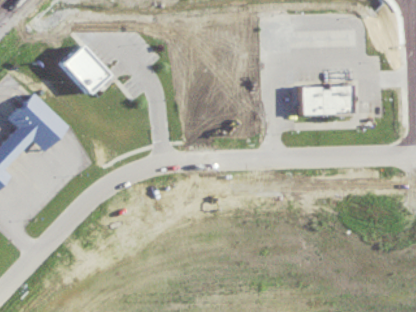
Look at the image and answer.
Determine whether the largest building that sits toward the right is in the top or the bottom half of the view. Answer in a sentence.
It is in the top half that the largest building that sits toward the right appears.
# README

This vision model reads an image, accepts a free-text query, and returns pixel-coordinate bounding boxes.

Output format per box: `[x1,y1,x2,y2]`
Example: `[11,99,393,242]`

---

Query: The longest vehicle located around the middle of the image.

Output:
[212,122,239,136]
